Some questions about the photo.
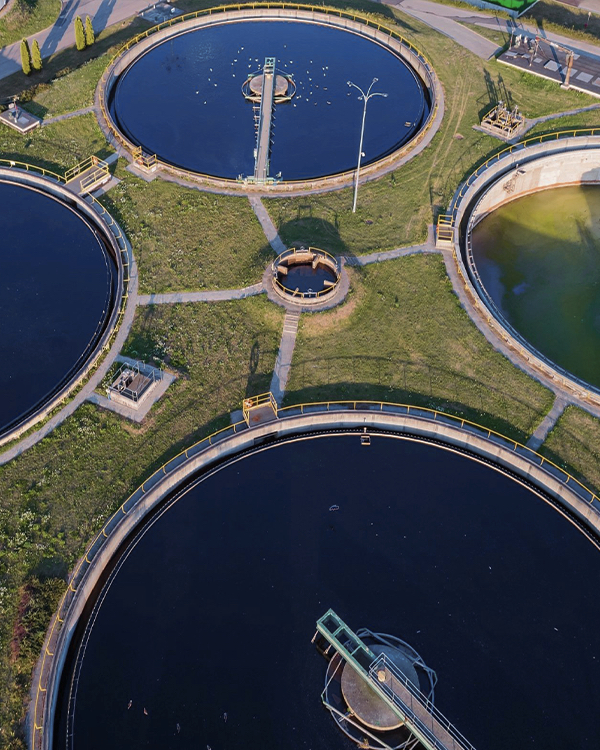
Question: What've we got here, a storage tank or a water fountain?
storage tank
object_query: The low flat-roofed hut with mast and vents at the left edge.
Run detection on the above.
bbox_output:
[0,93,41,135]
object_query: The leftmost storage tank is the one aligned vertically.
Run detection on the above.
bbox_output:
[0,159,130,445]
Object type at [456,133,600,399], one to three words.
storage tank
